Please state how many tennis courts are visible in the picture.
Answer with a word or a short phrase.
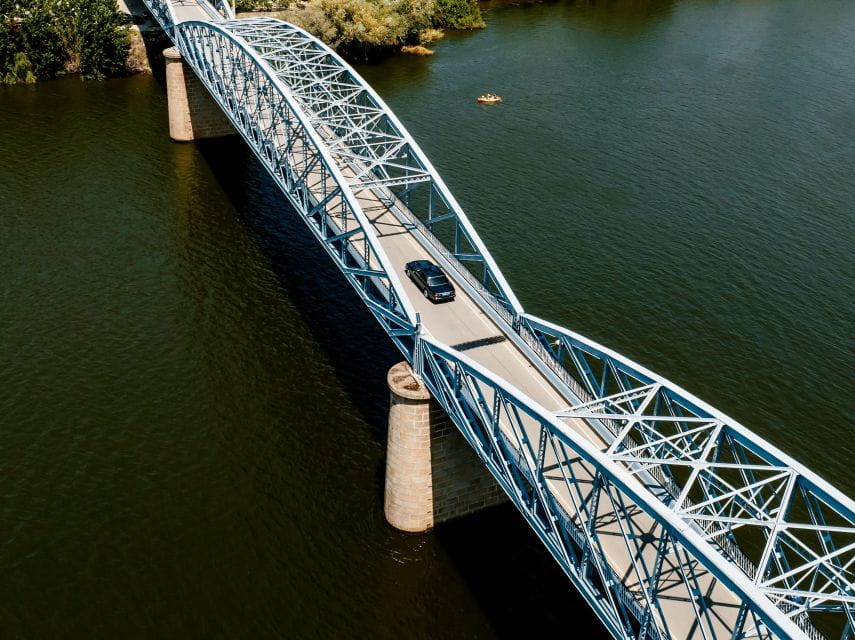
0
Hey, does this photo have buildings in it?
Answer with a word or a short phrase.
No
